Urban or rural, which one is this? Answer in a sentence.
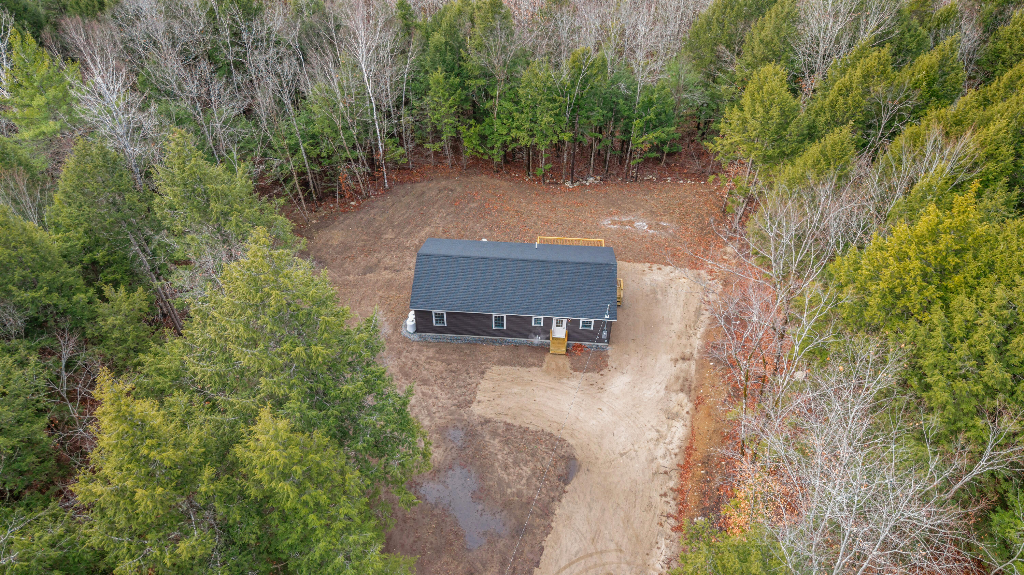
It looks rural.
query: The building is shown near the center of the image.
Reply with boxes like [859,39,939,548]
[409,238,618,345]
